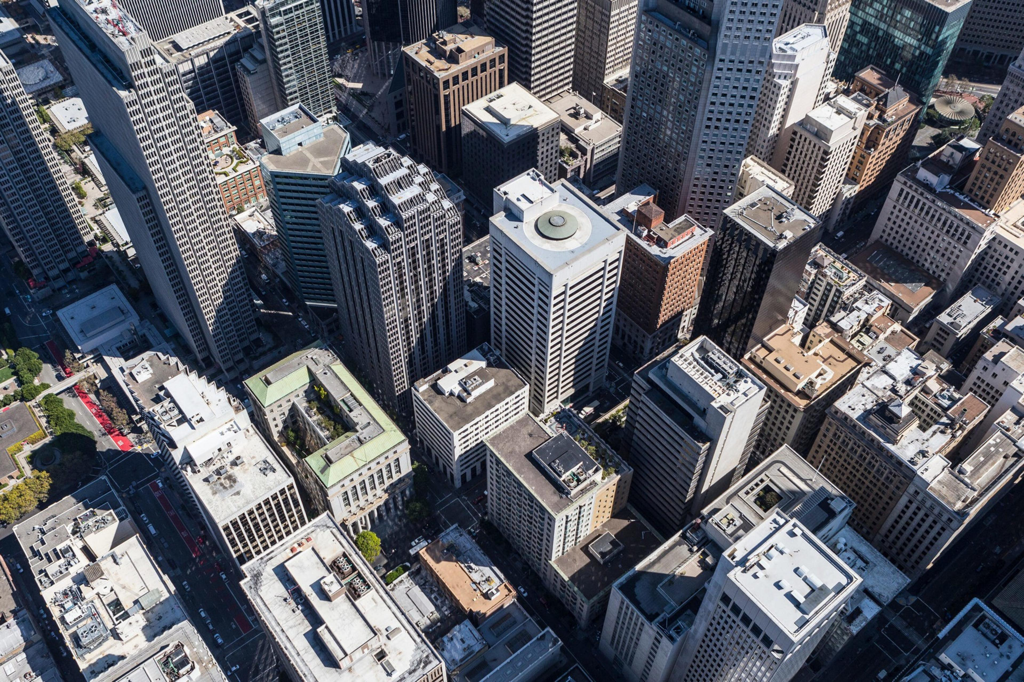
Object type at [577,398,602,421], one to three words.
truck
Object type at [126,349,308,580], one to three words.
building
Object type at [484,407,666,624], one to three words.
building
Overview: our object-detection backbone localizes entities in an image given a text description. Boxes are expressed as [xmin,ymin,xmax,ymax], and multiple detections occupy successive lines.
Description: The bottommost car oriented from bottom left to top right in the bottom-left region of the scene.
[226,664,240,677]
